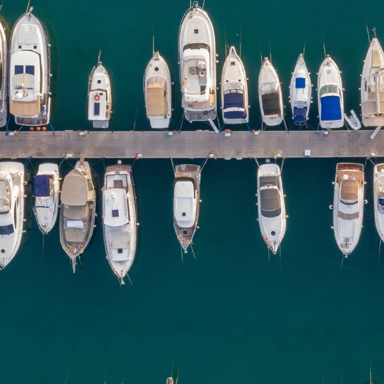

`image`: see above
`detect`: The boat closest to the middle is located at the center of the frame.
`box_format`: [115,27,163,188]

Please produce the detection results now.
[172,165,200,255]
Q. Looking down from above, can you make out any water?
Yes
